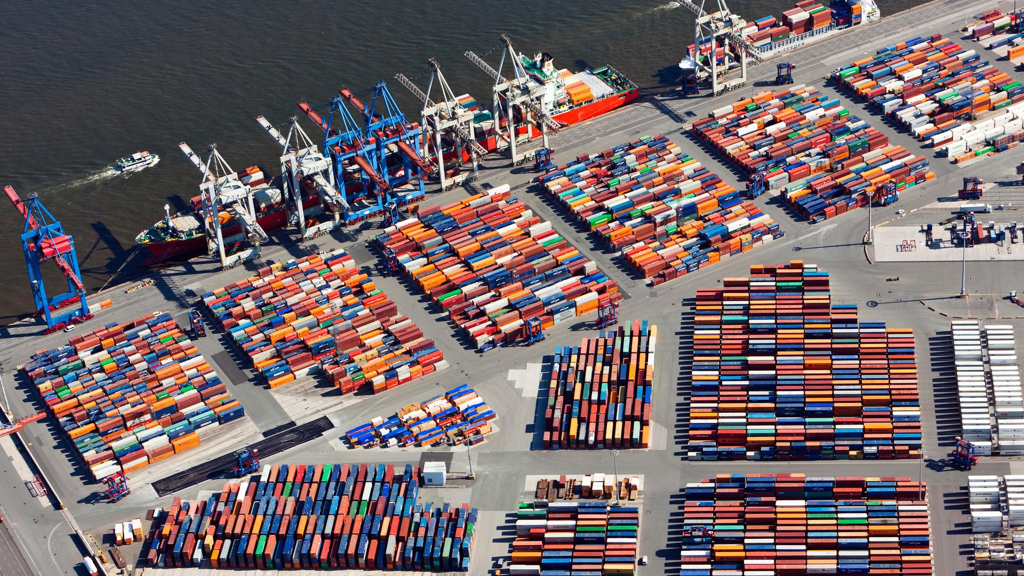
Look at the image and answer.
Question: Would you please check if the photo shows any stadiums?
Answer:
No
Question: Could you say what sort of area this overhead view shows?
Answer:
port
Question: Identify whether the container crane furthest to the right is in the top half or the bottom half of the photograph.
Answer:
top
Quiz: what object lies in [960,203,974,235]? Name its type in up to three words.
work vehicle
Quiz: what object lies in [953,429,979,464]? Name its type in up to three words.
work vehicle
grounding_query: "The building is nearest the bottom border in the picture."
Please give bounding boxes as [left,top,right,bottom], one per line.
[422,463,447,484]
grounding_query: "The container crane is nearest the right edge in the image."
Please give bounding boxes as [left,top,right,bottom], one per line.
[678,0,773,96]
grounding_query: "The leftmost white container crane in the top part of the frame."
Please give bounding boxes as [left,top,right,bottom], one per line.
[175,135,272,269]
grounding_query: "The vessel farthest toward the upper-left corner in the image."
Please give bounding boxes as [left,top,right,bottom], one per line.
[115,154,157,175]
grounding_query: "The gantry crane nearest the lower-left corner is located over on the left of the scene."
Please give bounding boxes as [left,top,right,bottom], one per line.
[0,397,48,433]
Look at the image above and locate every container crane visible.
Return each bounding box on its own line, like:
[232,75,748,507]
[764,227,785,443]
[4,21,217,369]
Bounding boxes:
[336,80,440,210]
[678,0,773,96]
[392,58,496,192]
[463,34,570,167]
[254,109,356,241]
[294,93,397,225]
[175,135,272,269]
[2,183,92,330]
[0,397,48,433]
